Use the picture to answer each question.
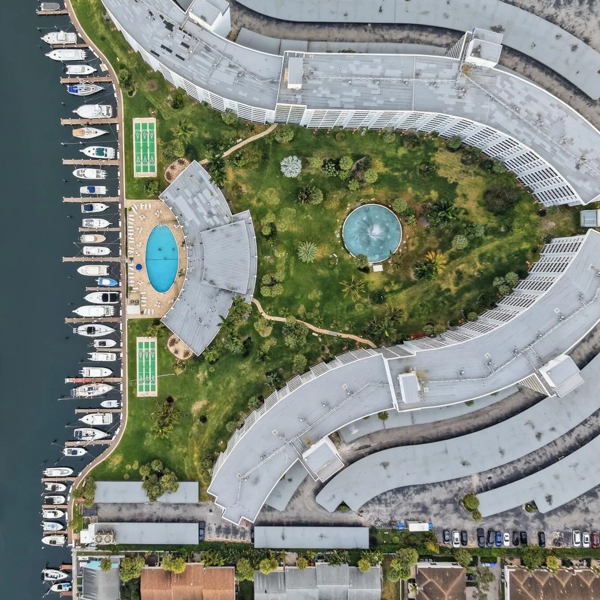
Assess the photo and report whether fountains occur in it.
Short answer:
Yes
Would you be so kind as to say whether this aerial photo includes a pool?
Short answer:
Yes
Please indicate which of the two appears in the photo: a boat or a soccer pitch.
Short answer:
boat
